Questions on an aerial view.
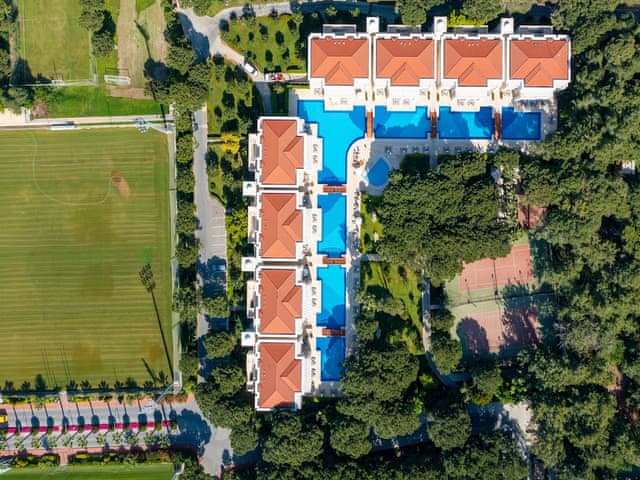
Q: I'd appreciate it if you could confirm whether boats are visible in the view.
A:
No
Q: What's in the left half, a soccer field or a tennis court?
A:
soccer field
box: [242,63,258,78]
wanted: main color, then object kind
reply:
white car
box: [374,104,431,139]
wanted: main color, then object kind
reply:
blue swimming pool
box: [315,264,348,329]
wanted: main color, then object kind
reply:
blue swimming pool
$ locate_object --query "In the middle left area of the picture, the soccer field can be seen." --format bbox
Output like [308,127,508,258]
[0,128,174,388]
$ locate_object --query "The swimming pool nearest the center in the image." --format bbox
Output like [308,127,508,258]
[316,192,348,258]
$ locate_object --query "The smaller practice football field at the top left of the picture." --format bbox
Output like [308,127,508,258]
[0,0,92,86]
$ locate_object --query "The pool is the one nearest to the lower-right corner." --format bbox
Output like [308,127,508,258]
[315,336,346,382]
